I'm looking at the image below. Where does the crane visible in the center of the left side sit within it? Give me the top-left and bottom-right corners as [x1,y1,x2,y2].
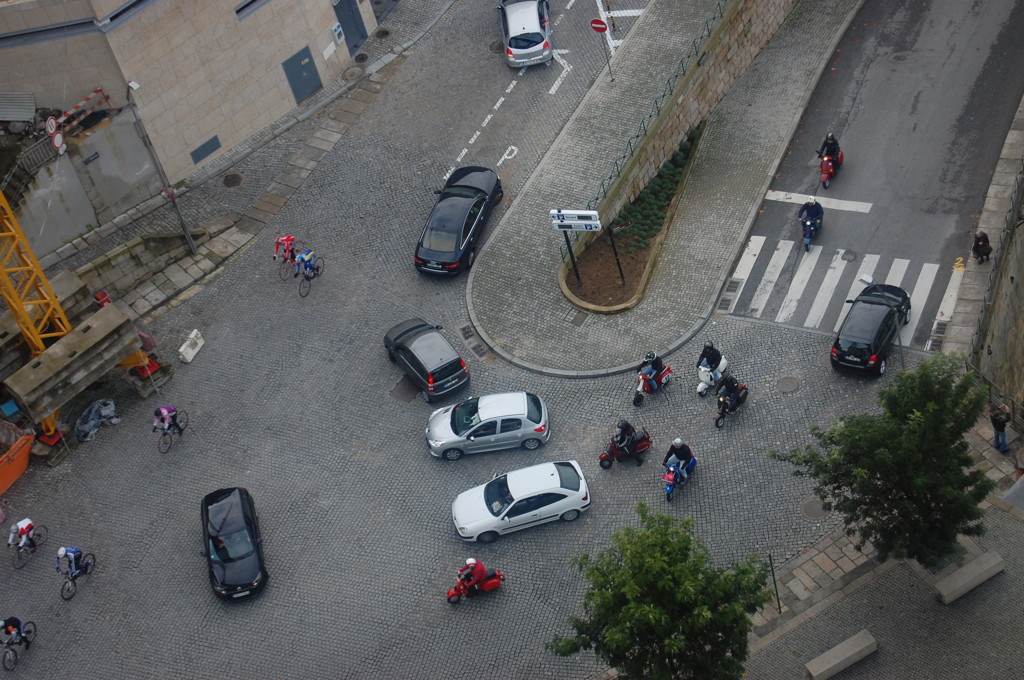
[0,179,162,446]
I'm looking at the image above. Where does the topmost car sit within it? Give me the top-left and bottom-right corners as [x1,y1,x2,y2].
[494,0,554,63]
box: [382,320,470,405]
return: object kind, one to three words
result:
car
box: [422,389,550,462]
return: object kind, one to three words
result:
car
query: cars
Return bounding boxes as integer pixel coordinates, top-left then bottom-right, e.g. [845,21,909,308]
[382,320,470,405]
[197,480,268,596]
[422,389,550,462]
[826,284,913,382]
[413,172,503,278]
[451,460,590,544]
[494,0,554,63]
